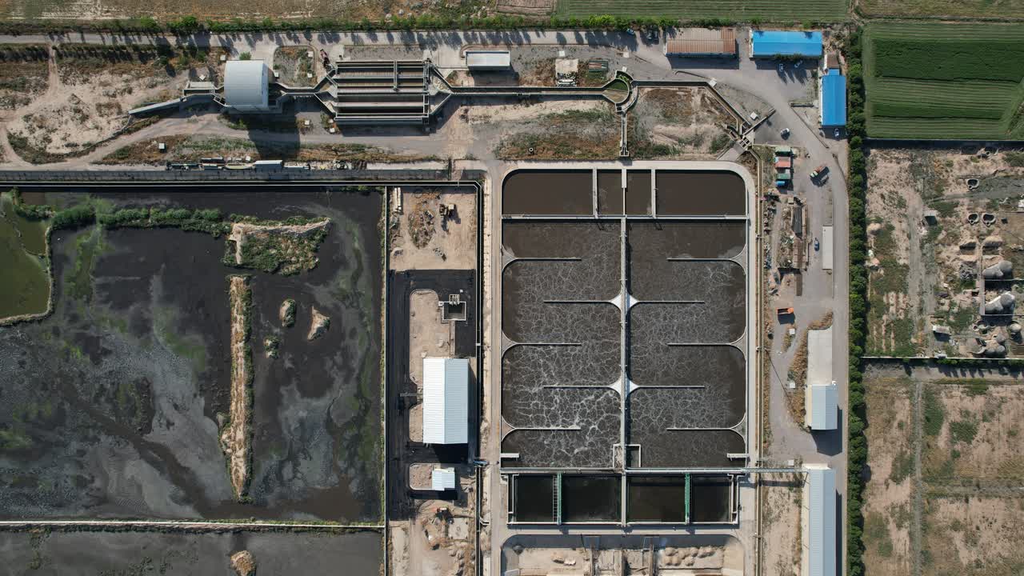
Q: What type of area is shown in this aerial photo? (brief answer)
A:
industrial area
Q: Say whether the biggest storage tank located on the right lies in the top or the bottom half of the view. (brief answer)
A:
bottom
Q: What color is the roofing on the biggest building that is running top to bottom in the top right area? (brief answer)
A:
blue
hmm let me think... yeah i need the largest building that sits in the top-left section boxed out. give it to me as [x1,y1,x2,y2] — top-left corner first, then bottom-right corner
[223,60,288,117]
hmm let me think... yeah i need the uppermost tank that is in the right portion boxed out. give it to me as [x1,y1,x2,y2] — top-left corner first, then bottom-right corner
[602,70,638,113]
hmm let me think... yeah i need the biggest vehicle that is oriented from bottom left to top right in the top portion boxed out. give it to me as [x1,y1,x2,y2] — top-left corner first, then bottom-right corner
[808,162,829,178]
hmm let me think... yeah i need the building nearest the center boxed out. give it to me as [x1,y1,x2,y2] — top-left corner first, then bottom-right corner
[423,357,469,445]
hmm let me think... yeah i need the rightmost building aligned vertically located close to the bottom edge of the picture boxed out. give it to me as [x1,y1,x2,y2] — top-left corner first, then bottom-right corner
[799,464,837,576]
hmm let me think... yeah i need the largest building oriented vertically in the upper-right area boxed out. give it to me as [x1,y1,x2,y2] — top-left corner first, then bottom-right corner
[820,69,846,127]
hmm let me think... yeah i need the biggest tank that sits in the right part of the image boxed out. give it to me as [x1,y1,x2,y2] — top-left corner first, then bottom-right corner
[507,472,744,527]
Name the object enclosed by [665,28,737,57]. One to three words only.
building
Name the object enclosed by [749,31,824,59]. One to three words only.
building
